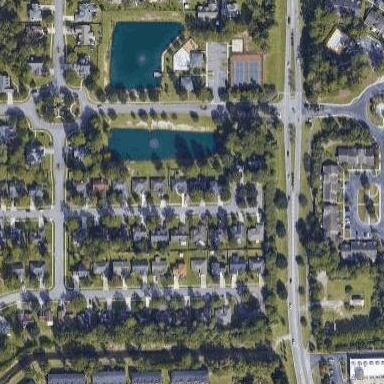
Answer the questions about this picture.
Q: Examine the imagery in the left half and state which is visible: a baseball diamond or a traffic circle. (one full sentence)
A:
Looking in the left half, you will find a traffic circle.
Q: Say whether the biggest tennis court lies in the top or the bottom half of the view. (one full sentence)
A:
It is in the top half that the biggest tennis court appears.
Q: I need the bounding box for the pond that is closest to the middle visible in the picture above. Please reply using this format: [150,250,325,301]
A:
[107,128,217,162]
